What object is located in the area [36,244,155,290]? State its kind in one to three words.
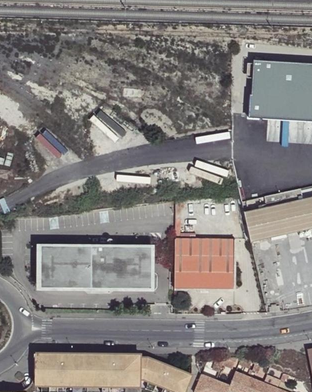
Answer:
building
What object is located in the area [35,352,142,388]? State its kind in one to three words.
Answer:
building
